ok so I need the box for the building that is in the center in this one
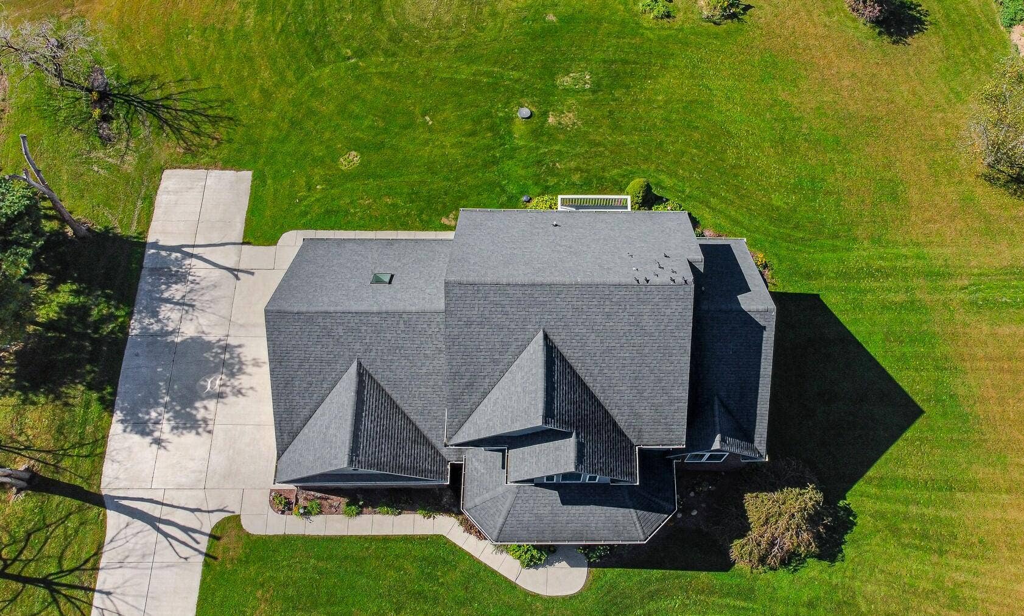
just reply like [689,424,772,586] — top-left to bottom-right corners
[267,195,776,546]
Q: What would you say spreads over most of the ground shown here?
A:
grass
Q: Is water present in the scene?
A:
No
